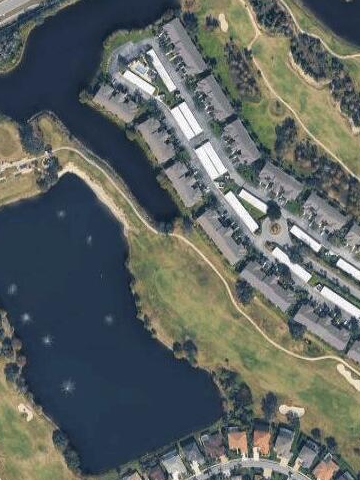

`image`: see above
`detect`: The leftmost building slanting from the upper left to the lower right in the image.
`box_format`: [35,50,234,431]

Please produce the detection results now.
[93,84,138,123]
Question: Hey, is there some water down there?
Yes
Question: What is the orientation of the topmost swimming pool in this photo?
diagonally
